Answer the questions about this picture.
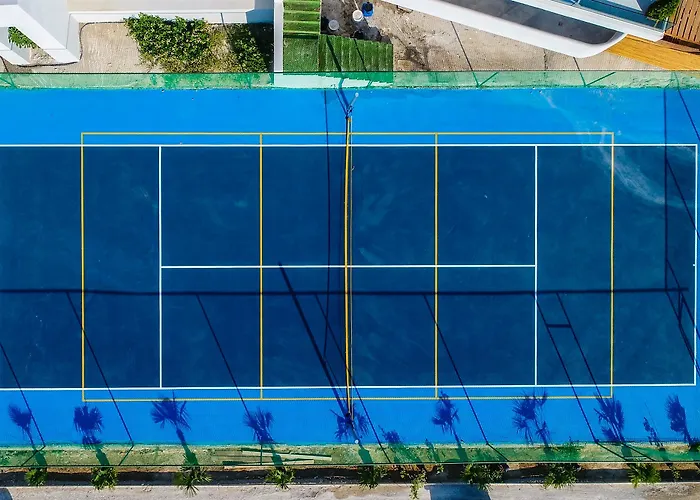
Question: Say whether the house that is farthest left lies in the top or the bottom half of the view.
top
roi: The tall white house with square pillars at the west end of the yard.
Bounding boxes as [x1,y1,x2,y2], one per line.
[0,0,79,62]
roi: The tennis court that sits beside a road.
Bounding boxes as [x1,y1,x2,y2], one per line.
[0,88,700,446]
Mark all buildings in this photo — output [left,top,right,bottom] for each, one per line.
[391,0,679,56]
[0,0,79,62]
